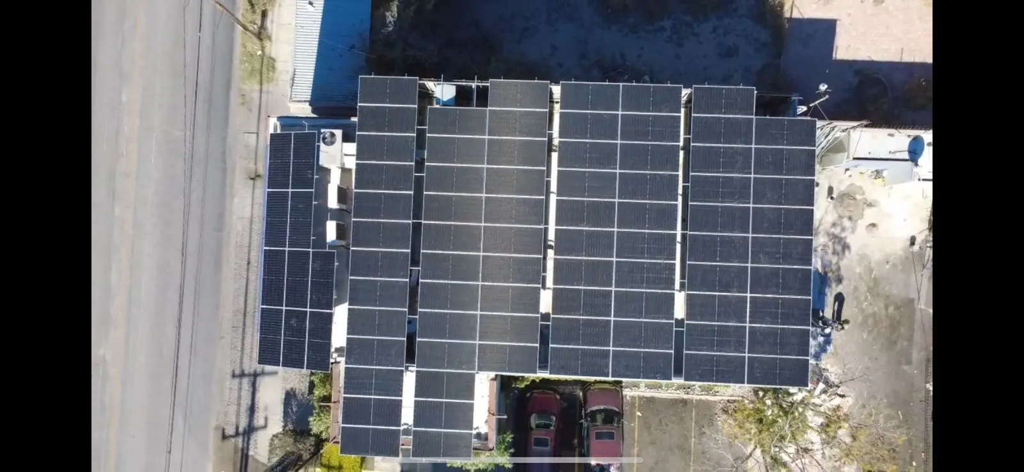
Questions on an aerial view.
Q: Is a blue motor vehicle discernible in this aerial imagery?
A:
No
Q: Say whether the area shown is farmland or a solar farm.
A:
solar farm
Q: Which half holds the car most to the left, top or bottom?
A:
bottom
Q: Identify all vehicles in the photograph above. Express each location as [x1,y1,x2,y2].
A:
[580,381,627,472]
[522,389,564,472]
